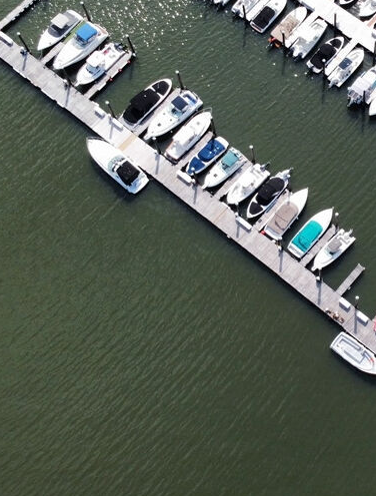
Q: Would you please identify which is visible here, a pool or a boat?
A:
boat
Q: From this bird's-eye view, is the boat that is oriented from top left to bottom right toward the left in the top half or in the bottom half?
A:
top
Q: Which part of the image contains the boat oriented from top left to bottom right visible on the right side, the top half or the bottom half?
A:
bottom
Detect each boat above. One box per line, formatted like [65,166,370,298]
[197,149,247,195]
[33,11,84,51]
[309,230,355,273]
[66,44,126,90]
[260,187,308,241]
[121,78,171,130]
[244,174,287,218]
[351,65,376,101]
[232,0,261,19]
[271,5,307,44]
[161,112,211,169]
[308,35,343,74]
[220,164,271,203]
[284,209,332,263]
[250,0,287,35]
[86,136,155,199]
[331,333,376,374]
[355,0,376,16]
[290,18,328,59]
[327,44,363,89]
[138,92,206,148]
[182,135,232,174]
[48,22,111,76]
